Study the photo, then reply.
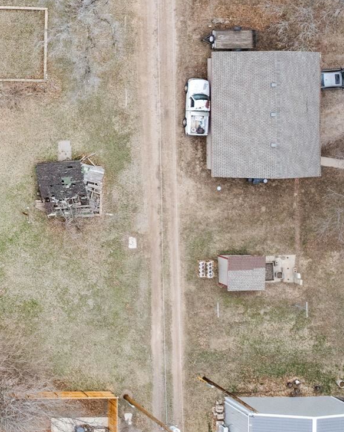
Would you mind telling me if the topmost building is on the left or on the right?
right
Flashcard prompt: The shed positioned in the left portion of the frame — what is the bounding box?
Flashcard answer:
[35,152,113,216]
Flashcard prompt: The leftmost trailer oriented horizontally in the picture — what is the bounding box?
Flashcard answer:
[203,27,259,52]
